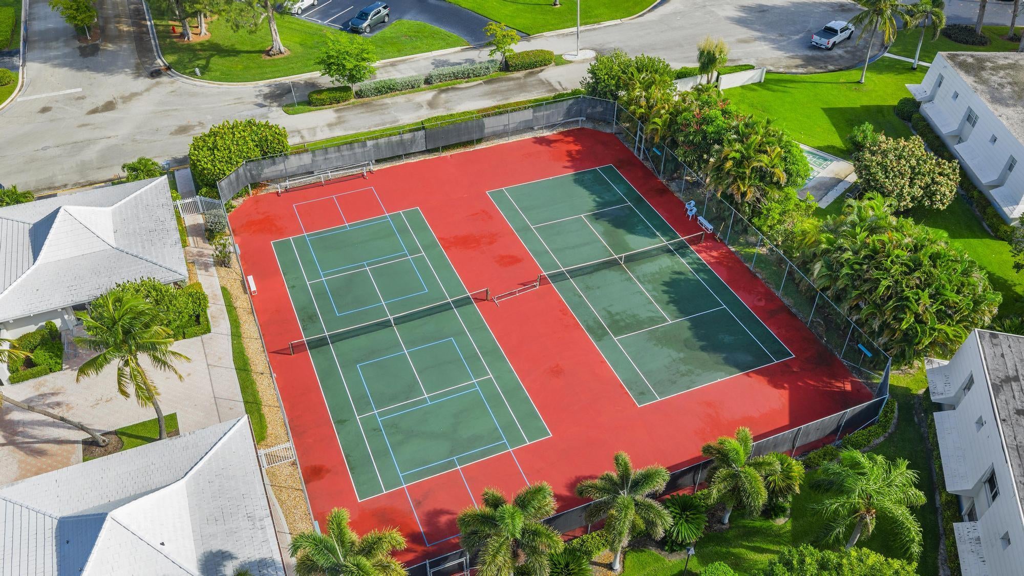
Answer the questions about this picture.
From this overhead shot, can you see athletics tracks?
No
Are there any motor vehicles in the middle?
No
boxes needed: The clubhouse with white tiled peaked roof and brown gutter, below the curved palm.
[0,413,287,576]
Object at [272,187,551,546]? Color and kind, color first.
green tennis court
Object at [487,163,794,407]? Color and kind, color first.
green tennis court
